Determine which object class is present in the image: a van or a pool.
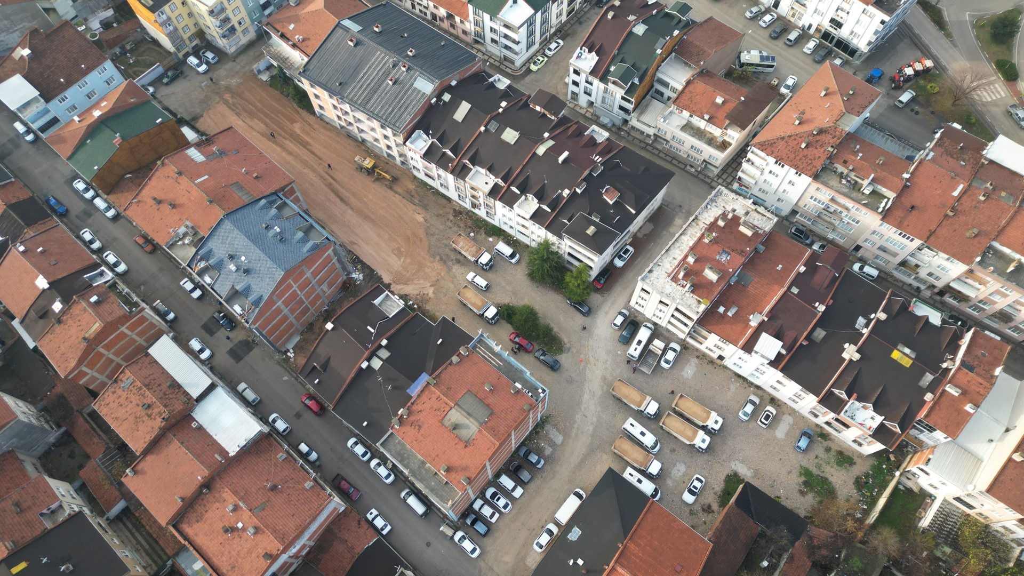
van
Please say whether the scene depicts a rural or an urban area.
urban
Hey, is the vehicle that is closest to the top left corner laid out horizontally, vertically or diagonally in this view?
diagonally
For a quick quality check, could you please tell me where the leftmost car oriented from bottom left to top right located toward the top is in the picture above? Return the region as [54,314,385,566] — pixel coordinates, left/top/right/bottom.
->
[160,67,184,86]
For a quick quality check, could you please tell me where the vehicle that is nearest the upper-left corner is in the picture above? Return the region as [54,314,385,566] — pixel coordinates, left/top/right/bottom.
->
[9,118,38,142]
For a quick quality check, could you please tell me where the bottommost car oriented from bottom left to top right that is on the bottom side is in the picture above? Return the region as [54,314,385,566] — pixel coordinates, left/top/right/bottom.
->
[530,524,558,555]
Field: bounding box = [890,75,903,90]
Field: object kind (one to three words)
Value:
vehicle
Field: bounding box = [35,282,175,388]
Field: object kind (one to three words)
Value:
house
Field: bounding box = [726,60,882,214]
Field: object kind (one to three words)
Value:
building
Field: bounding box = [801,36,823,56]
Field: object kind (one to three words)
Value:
car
